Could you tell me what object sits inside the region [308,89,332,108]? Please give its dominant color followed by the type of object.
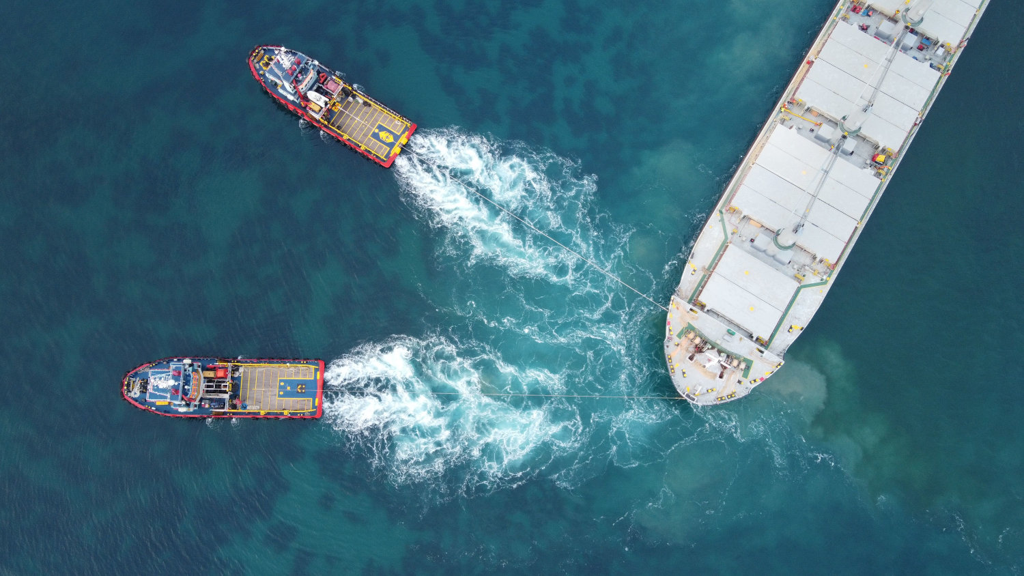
white boat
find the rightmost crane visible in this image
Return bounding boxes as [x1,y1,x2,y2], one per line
[887,0,935,47]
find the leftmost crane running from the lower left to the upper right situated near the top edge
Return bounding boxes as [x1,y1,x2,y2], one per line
[827,25,910,150]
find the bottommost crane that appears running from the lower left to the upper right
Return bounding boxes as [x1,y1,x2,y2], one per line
[764,133,848,259]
